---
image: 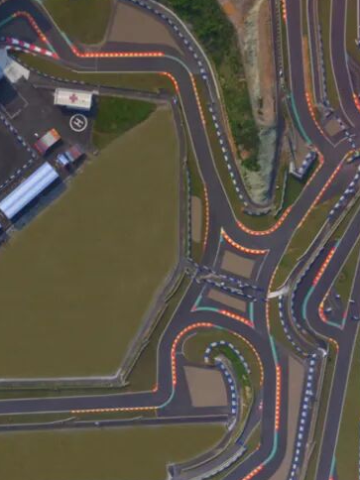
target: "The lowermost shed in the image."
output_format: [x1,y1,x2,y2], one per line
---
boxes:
[0,163,60,219]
